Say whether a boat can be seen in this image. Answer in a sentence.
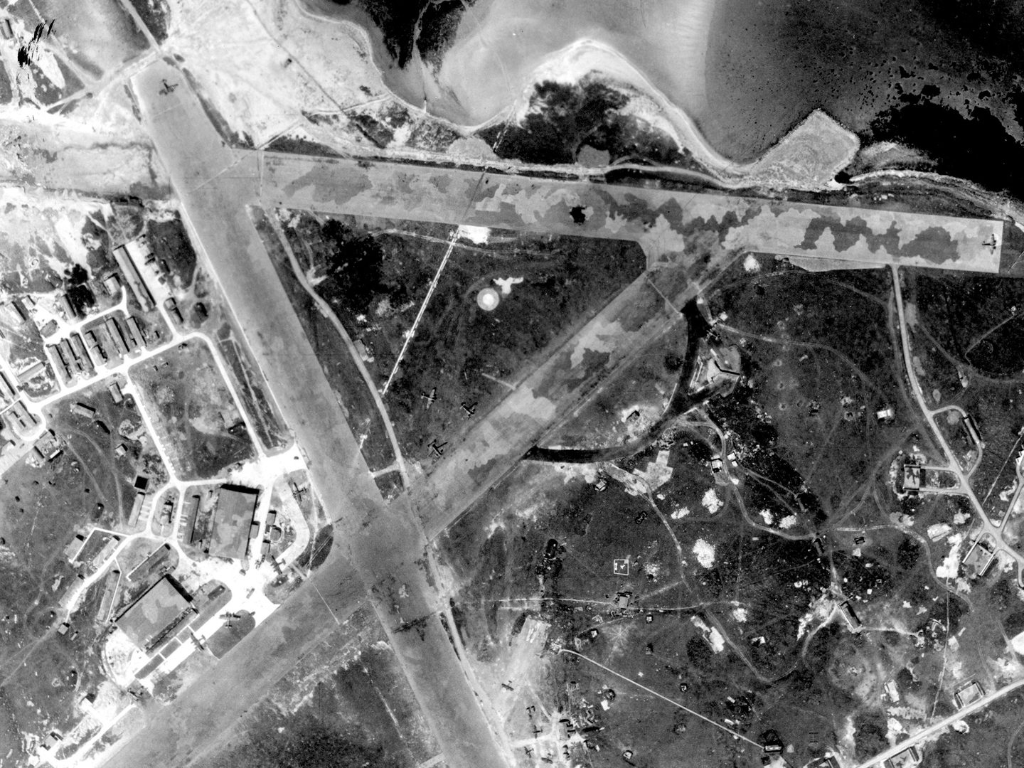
No, the scene contains no boat.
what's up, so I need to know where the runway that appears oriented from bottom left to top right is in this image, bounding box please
[100,254,739,768]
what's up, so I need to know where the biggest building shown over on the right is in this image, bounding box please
[904,459,925,495]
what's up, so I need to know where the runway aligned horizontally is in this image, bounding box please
[230,146,1003,274]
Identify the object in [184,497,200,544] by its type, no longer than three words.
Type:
building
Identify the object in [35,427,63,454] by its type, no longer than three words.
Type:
building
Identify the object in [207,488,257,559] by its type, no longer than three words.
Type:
hangar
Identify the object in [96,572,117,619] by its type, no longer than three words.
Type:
shed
